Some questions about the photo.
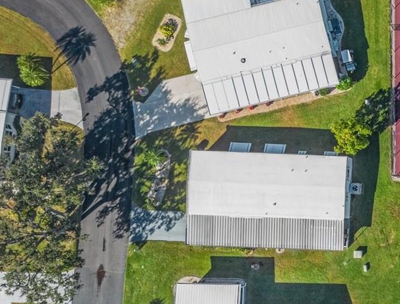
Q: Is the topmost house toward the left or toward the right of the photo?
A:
right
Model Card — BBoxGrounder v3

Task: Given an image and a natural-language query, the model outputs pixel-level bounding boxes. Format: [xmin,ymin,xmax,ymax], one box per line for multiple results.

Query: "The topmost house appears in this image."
[181,0,340,115]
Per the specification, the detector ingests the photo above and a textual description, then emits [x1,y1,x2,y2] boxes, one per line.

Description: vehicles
[4,95,24,111]
[338,45,358,73]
